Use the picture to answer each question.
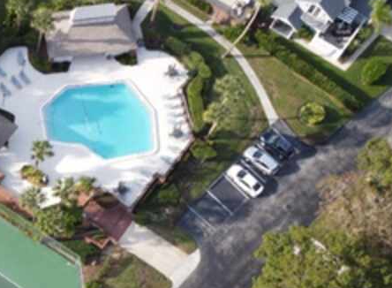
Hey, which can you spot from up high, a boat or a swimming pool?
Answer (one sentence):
There is a swimming pool in the scene.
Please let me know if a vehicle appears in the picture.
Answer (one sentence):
Yes, a vehicle is visible in the scene.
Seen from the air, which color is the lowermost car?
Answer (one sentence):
From above, the lowermost car appears white.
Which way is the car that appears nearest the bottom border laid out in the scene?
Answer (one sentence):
The car that appears nearest the bottom border is oriented diagonally.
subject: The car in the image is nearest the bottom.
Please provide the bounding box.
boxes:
[226,168,264,199]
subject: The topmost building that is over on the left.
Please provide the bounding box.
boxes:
[35,0,138,65]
